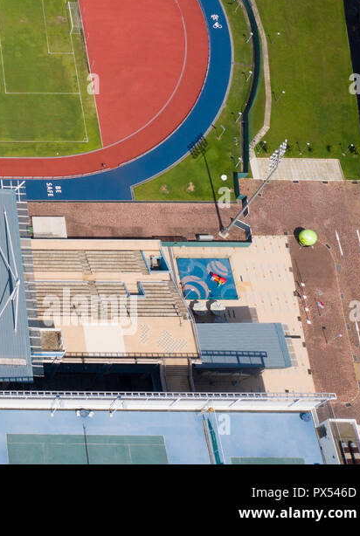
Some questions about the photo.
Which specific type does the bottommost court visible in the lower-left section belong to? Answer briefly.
tennis court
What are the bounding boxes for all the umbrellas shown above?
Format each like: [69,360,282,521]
[214,297,232,313]
[195,297,213,313]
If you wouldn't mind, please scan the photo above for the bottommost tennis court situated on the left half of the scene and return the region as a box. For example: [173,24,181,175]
[2,425,187,530]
